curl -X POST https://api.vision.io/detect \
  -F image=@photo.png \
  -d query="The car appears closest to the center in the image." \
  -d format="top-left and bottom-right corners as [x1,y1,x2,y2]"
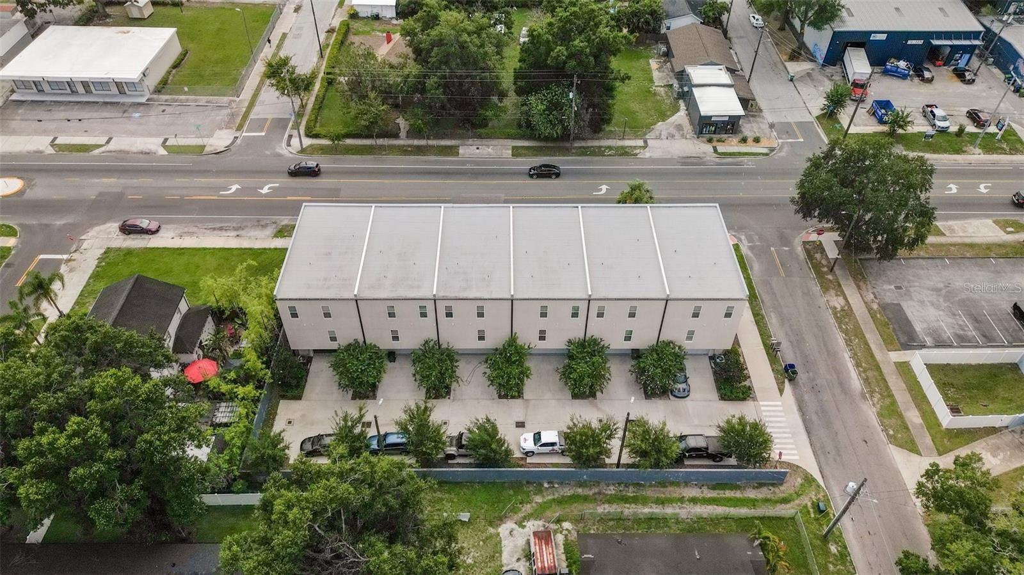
[527,163,563,178]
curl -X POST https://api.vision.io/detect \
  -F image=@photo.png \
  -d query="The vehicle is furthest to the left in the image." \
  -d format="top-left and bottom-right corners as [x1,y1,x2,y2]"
[117,217,162,234]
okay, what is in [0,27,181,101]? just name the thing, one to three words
building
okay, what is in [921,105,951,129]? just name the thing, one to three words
truck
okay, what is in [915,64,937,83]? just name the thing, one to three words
car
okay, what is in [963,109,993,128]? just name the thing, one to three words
car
